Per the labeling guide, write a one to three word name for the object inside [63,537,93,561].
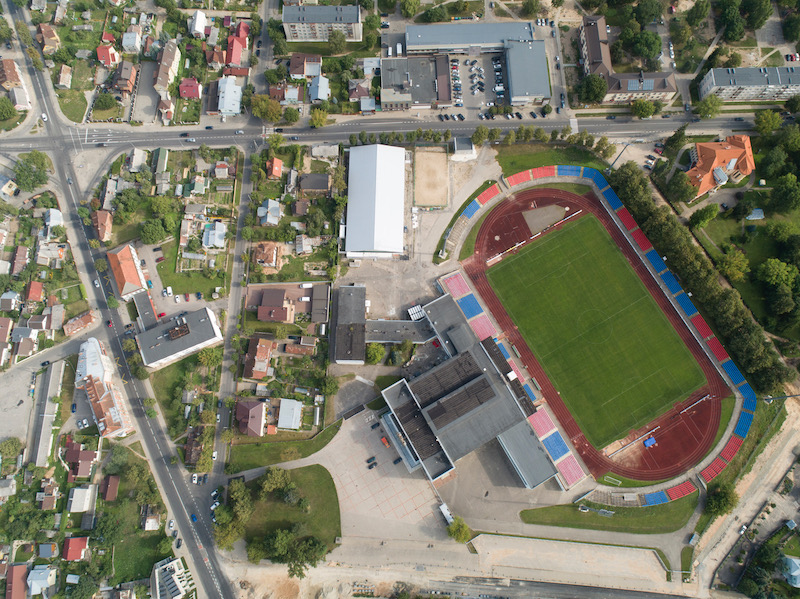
house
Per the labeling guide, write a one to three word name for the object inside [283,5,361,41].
building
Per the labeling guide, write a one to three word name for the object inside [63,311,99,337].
house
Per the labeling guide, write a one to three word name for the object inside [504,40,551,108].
building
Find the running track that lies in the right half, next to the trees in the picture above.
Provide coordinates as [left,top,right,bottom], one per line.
[459,188,734,482]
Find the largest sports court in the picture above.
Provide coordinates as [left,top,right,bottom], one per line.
[415,148,448,205]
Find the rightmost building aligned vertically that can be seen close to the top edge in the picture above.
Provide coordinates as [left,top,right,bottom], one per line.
[578,12,612,85]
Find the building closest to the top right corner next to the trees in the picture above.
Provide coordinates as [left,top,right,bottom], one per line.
[699,66,800,102]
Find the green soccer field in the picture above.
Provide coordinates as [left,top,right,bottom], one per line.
[484,212,709,451]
